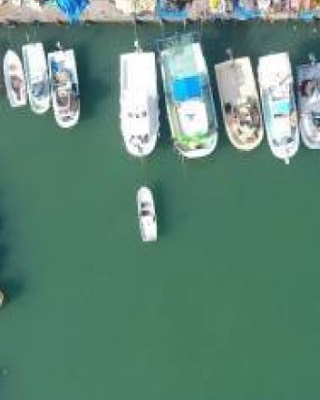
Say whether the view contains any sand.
No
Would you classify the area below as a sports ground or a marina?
marina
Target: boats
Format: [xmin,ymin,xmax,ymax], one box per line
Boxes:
[139,186,156,246]
[256,51,298,161]
[298,56,320,149]
[21,35,49,115]
[214,49,263,151]
[117,42,162,158]
[48,44,78,129]
[153,21,221,159]
[4,49,27,109]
